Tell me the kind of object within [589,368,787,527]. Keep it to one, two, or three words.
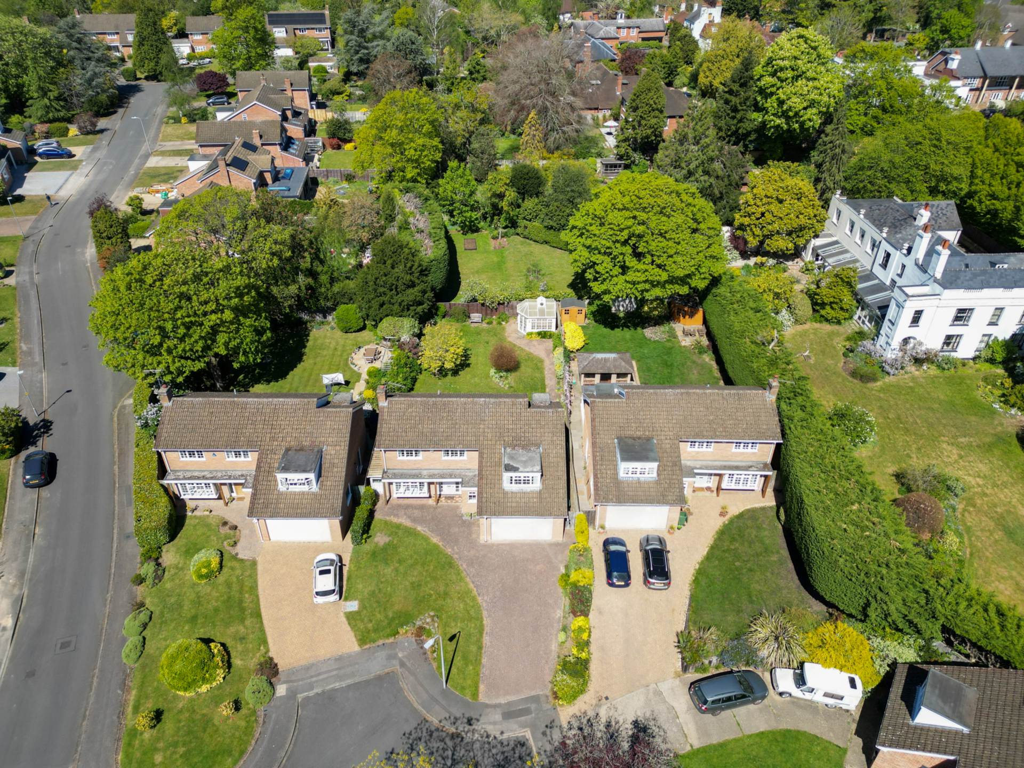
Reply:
house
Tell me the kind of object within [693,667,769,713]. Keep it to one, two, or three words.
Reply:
car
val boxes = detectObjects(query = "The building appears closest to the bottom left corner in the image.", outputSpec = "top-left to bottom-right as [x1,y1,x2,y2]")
[151,376,362,539]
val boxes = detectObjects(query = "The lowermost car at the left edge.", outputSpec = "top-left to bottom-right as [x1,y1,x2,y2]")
[17,448,51,489]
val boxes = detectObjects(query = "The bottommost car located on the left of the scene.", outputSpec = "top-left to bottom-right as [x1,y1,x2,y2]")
[308,553,343,604]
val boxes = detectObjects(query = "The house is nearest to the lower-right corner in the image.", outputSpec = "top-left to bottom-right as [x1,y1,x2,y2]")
[872,663,1024,768]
